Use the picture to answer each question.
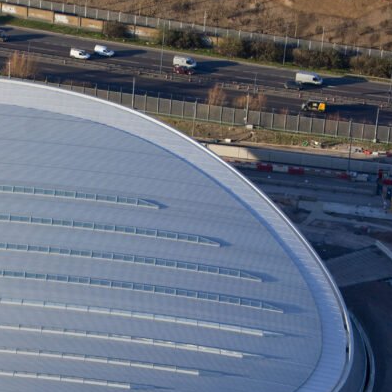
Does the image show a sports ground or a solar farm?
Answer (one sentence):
The area seen from above is a sports ground.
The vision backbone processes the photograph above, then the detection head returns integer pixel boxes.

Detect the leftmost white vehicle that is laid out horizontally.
[69,47,91,59]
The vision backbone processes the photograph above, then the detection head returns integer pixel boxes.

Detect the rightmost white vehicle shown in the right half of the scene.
[295,70,324,87]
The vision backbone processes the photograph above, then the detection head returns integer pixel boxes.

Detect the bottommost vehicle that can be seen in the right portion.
[301,99,328,114]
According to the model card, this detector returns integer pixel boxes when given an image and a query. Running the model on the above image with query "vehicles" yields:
[173,67,194,77]
[295,70,324,87]
[301,99,328,114]
[283,82,304,92]
[69,47,91,59]
[94,44,116,57]
[172,56,198,71]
